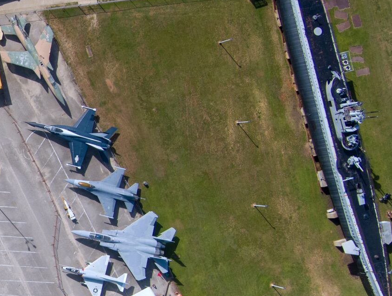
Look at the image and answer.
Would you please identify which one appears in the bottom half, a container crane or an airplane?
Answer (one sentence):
Looking in the bottom half, you will find an airplane.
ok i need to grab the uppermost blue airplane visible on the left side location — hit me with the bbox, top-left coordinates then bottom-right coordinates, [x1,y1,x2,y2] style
[26,103,117,168]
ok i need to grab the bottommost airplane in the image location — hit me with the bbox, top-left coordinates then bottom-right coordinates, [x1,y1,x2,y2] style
[57,257,130,296]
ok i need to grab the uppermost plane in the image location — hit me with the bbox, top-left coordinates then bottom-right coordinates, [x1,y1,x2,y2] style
[0,10,65,104]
